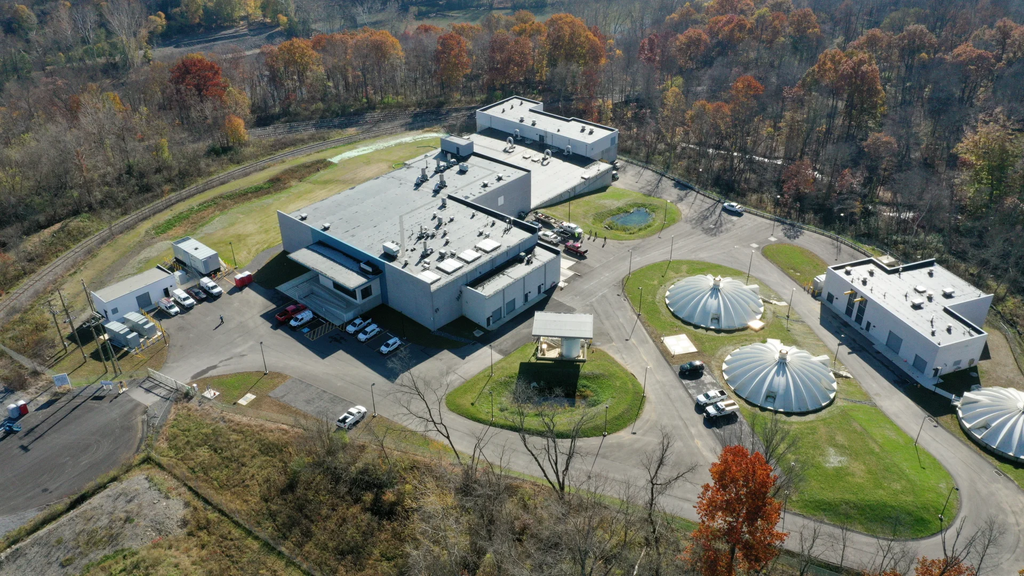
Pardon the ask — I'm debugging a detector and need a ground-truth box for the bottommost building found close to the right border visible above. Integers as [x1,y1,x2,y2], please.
[822,258,995,377]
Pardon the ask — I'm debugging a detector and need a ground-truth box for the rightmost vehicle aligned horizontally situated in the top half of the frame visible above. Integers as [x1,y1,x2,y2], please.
[720,202,748,215]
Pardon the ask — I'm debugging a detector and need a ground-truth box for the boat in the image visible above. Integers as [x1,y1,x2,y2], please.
[531,207,557,223]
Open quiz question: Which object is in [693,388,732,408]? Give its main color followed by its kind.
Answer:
white vehicle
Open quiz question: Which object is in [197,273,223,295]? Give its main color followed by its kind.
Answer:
white truck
